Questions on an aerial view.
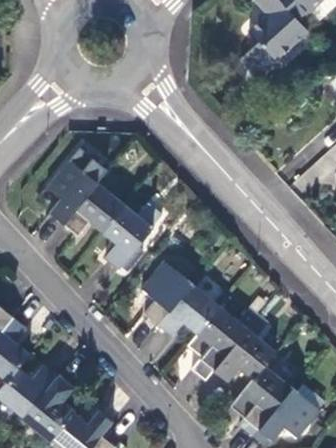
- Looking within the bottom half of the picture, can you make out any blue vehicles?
Yes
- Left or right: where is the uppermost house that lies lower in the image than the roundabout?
left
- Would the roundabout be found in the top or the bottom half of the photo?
top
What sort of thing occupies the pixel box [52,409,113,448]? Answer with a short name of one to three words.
house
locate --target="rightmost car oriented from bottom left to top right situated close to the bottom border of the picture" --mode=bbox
[232,430,252,448]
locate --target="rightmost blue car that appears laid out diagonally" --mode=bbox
[96,357,117,379]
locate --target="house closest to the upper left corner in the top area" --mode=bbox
[70,136,118,183]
